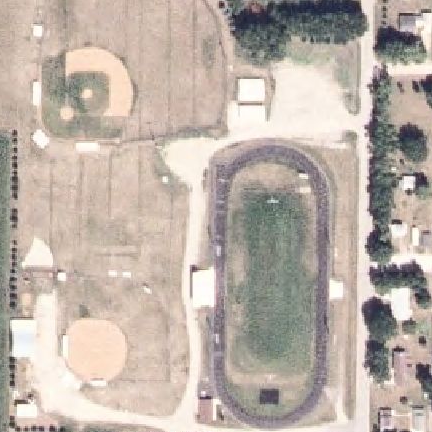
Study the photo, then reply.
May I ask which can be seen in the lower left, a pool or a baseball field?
baseball field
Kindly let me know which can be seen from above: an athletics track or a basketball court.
athletics track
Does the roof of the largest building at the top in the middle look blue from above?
No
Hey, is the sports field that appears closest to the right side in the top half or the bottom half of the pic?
bottom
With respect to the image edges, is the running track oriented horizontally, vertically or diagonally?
vertically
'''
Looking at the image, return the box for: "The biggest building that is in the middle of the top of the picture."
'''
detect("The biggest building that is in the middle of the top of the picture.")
[240,78,266,103]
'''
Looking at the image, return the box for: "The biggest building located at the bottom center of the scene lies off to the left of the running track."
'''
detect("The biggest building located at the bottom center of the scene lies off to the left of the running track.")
[199,398,213,423]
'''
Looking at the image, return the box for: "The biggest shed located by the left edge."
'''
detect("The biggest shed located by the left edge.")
[11,320,36,357]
